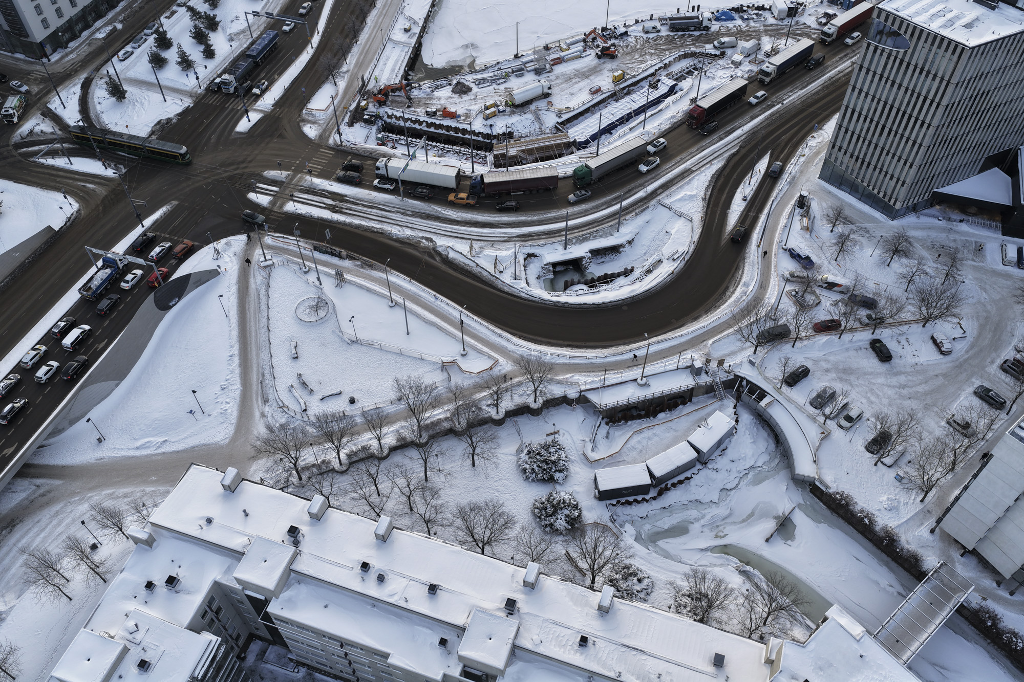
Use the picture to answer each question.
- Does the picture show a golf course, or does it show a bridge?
bridge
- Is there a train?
Yes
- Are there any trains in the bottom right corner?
No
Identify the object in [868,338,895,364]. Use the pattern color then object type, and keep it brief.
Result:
black car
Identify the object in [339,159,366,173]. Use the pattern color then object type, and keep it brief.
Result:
black car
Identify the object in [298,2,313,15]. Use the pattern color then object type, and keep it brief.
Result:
gray vehicle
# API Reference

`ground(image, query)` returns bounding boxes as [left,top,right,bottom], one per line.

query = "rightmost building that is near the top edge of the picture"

[819,0,1024,219]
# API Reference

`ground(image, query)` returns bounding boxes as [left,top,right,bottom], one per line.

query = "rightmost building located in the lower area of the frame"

[930,412,1024,597]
